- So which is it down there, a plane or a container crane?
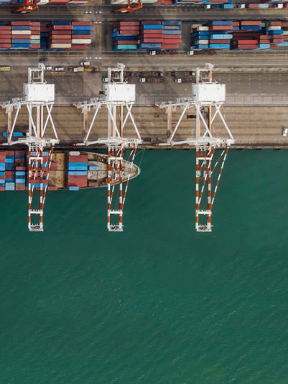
container crane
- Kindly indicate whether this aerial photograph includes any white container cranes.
Yes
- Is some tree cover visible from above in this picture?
No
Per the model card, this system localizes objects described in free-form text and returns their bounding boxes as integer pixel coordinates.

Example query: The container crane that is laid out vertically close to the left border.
[0,63,59,232]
